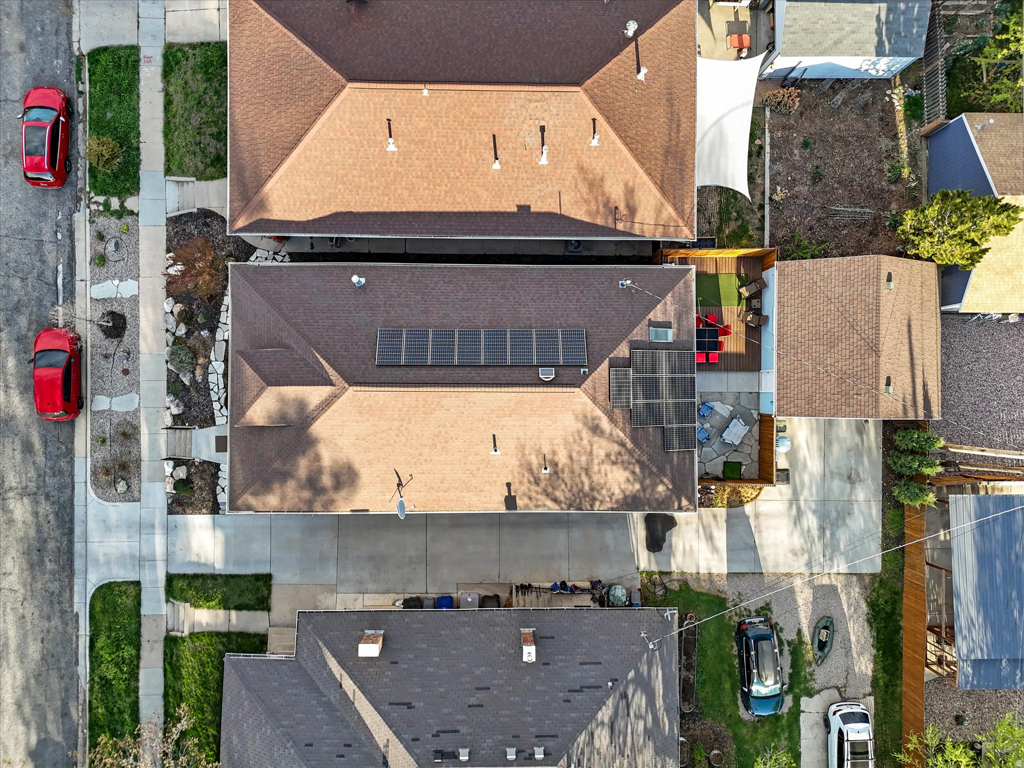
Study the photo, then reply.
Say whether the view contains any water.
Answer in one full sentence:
No, there is no water in the image.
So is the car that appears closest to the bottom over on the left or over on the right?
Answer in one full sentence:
The car that appears closest to the bottom appears in the right half of the scene.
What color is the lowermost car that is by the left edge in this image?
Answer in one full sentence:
The lowermost car that is by the left edge looks red in the image.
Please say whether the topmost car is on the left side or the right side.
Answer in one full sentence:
The topmost car appears in the left half of the scene.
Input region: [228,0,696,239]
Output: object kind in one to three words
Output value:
house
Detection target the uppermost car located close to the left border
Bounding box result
[14,87,79,192]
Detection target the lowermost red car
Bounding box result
[26,327,86,422]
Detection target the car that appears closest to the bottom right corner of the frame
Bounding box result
[819,694,883,768]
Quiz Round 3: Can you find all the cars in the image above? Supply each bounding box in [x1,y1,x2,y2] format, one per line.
[26,327,86,422]
[14,87,79,192]
[819,694,883,768]
[731,609,793,720]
